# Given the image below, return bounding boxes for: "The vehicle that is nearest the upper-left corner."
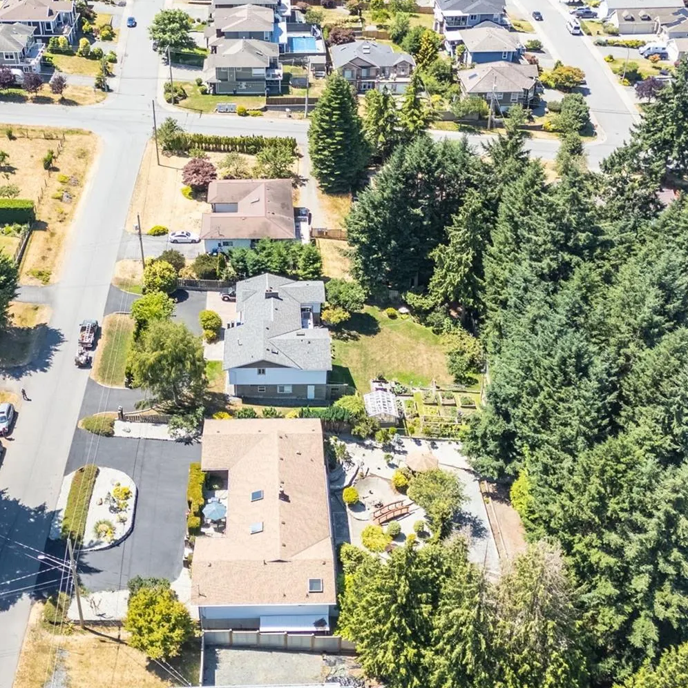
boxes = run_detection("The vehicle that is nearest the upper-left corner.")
[125,10,138,25]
